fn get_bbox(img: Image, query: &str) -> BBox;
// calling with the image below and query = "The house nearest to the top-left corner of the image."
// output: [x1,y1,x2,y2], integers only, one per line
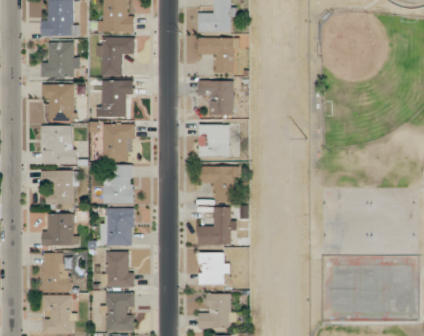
[40,0,80,36]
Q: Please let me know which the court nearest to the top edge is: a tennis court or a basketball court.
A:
basketball court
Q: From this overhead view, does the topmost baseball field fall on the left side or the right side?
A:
right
